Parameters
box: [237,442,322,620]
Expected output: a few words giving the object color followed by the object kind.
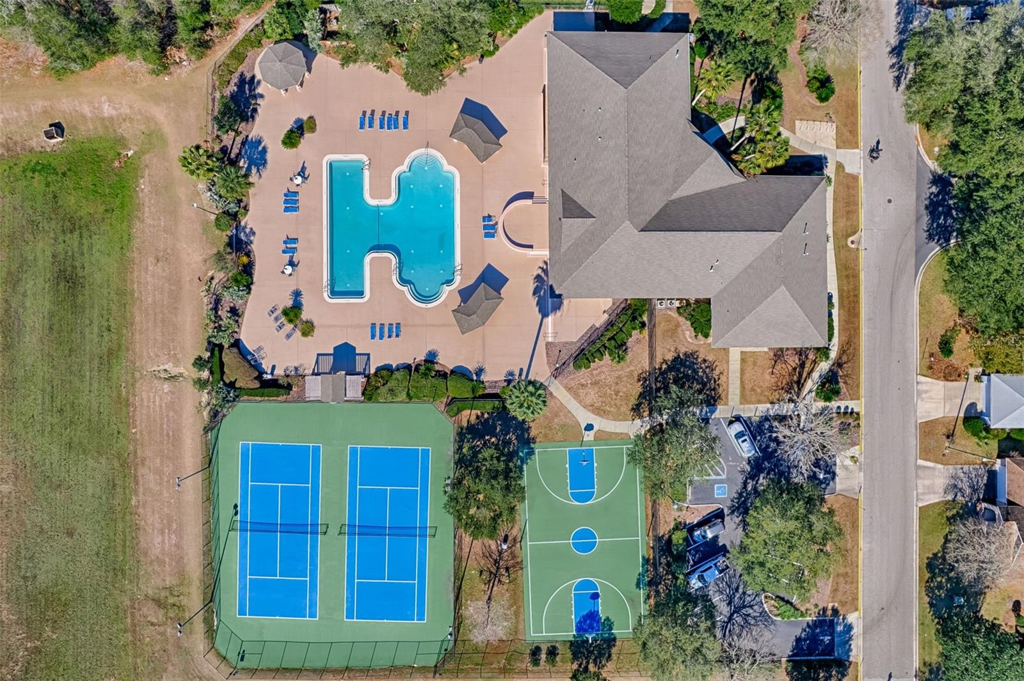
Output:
blue tennis court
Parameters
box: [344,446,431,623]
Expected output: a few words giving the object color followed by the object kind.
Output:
blue tennis court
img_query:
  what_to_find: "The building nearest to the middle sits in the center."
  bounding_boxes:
[452,282,504,335]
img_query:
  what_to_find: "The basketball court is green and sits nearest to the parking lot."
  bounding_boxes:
[519,439,650,642]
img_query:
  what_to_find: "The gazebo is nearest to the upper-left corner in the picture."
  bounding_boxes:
[259,42,314,98]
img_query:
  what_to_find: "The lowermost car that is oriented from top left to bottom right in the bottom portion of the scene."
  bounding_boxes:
[728,421,759,458]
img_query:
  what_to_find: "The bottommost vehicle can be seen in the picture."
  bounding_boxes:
[687,555,731,590]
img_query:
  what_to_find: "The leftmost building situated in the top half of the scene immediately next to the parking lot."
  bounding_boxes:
[547,31,827,348]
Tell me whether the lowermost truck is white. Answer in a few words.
No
